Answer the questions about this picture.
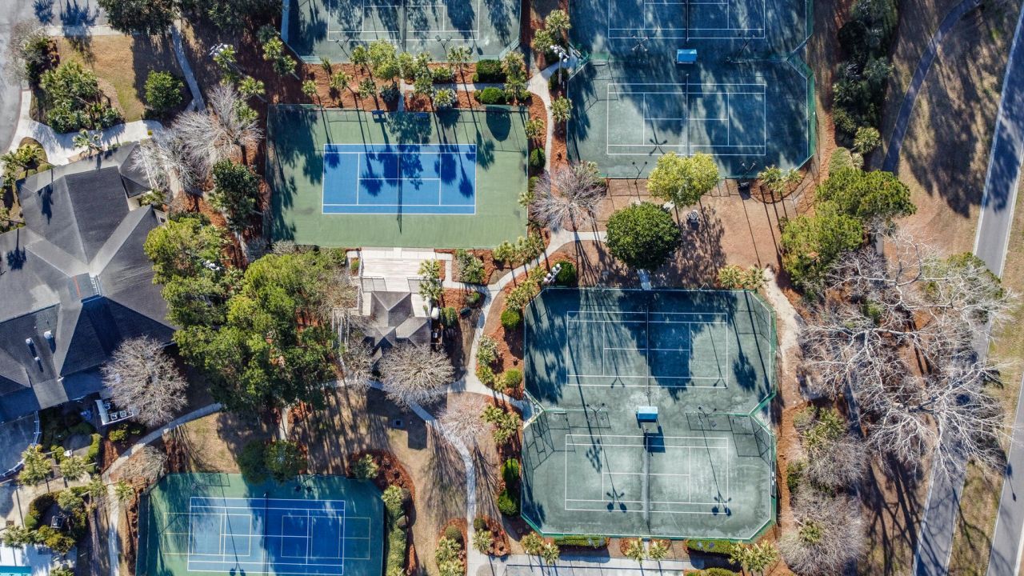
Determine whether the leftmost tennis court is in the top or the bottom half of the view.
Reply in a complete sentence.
The leftmost tennis court is in the bottom half of the image.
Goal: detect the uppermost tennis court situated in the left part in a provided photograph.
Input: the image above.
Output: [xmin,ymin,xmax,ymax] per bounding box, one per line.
[287,0,520,62]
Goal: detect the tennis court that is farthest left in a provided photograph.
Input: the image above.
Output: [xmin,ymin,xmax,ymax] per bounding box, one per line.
[147,474,382,576]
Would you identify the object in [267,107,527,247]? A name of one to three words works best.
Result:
tennis court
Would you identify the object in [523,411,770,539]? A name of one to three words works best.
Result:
tennis court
